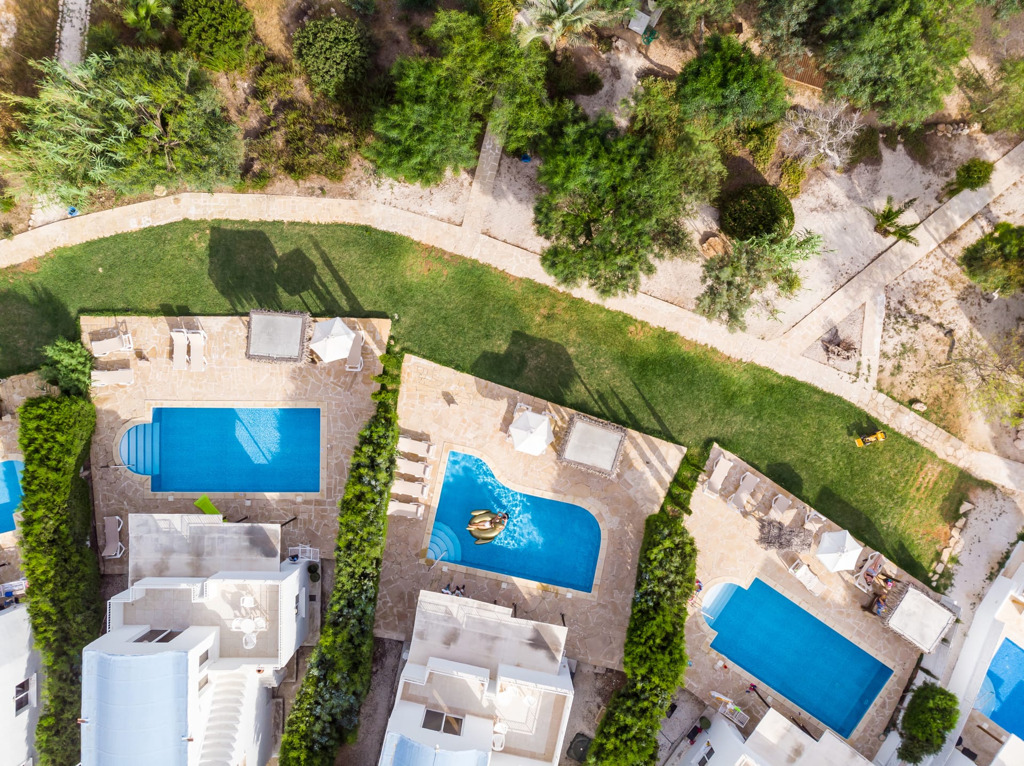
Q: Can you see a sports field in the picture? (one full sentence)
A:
No, this view has no sports field in it.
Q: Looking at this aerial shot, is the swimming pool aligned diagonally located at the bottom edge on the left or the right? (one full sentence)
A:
You can find the swimming pool aligned diagonally located at the bottom edge on the right side of the picture.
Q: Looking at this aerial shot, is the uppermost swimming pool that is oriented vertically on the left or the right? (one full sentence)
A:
The uppermost swimming pool that is oriented vertically appears in the left half of the scene.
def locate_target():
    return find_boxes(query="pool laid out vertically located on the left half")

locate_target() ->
[0,453,31,539]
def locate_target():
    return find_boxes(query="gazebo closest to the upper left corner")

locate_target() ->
[243,307,318,368]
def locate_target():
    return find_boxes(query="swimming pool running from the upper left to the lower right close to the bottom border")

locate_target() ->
[695,568,903,749]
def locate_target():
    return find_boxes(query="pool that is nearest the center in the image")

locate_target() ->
[420,443,609,601]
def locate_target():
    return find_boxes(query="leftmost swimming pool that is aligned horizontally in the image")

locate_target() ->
[105,401,332,501]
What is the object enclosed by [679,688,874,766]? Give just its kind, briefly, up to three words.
house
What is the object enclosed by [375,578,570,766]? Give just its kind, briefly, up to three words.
house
